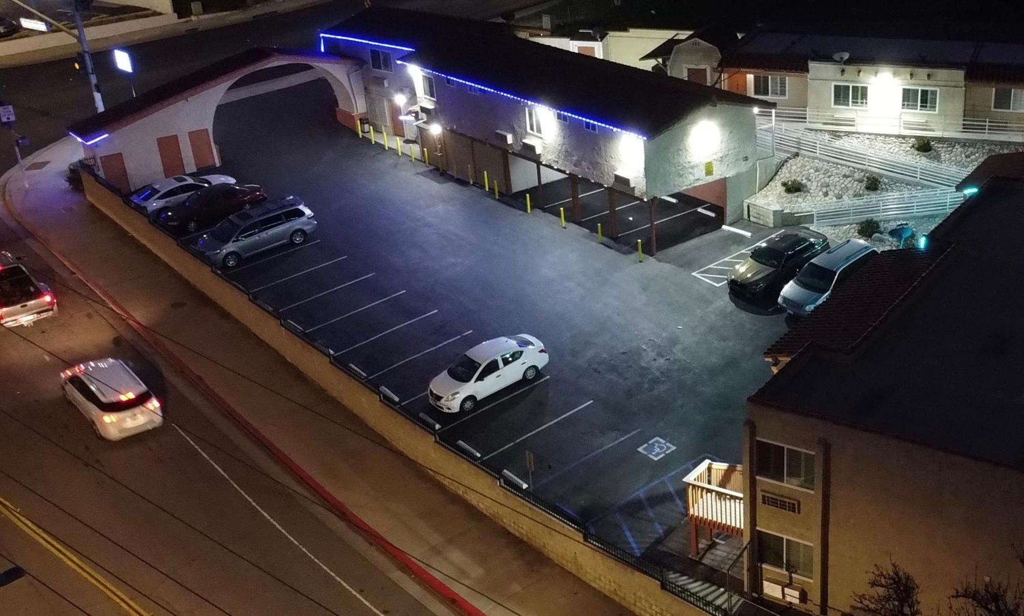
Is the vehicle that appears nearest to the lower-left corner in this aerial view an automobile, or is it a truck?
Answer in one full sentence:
I'd identify the vehicle that appears nearest to the lower-left corner as an automobile.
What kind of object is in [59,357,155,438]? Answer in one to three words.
car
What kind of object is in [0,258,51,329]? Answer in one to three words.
truck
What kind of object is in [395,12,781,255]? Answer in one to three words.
building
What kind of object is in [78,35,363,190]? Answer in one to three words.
building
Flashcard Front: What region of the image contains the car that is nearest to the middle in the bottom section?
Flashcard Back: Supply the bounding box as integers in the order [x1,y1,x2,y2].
[416,333,547,415]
